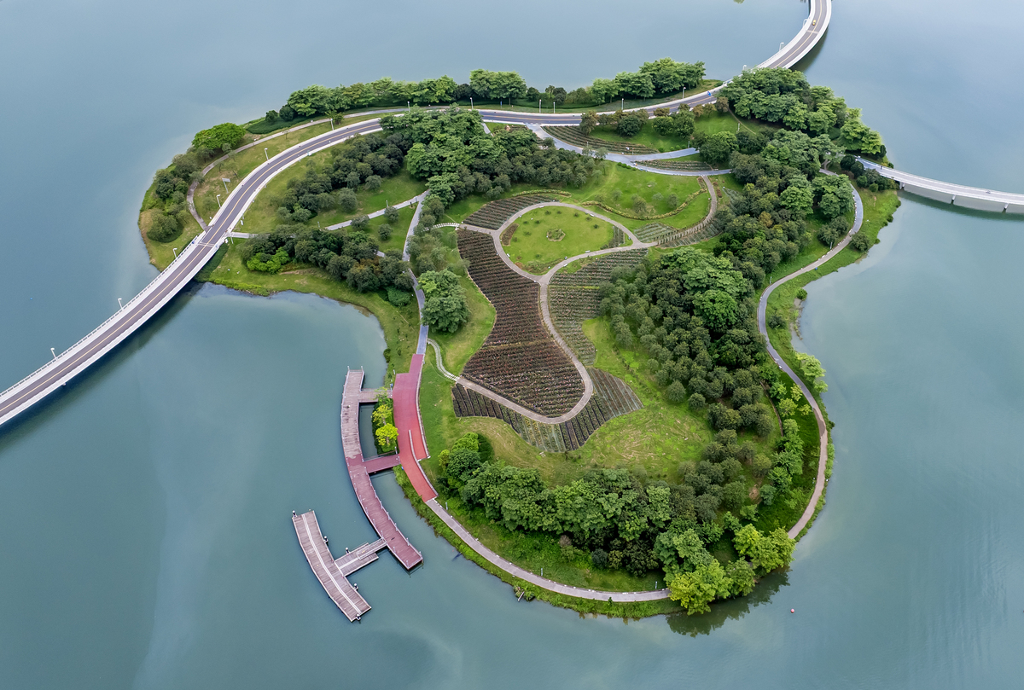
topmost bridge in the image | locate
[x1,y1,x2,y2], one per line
[717,0,830,87]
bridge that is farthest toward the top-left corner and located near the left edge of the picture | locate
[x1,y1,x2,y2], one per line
[0,242,216,424]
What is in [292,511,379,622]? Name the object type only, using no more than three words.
pier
